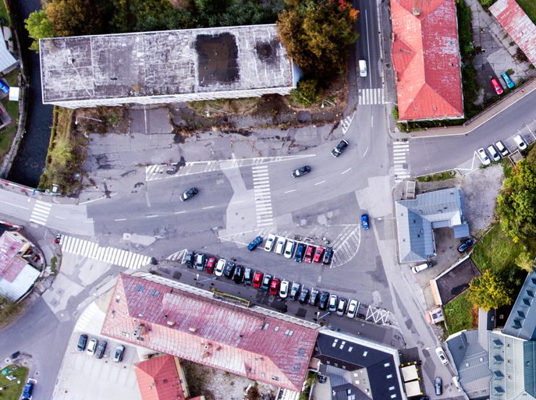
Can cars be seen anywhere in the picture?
Yes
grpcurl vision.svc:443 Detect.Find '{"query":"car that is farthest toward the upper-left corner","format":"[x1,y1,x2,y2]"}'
[179,186,199,200]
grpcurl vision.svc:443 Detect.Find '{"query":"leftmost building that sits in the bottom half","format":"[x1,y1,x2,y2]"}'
[0,230,53,296]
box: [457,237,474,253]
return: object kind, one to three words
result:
car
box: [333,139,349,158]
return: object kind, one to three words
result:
car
